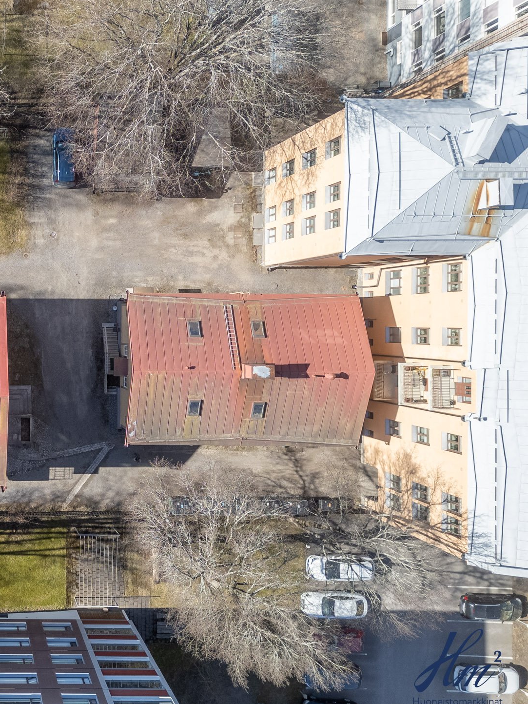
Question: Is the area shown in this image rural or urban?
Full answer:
The area is urban.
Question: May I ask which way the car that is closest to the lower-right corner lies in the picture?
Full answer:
I'd say the car that is closest to the lower-right corner is aligned from left to right in the picture.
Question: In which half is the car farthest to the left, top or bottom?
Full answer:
The top half of the photo is where the car farthest to the left is.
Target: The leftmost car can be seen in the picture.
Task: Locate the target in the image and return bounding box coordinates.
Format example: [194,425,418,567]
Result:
[49,126,78,189]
